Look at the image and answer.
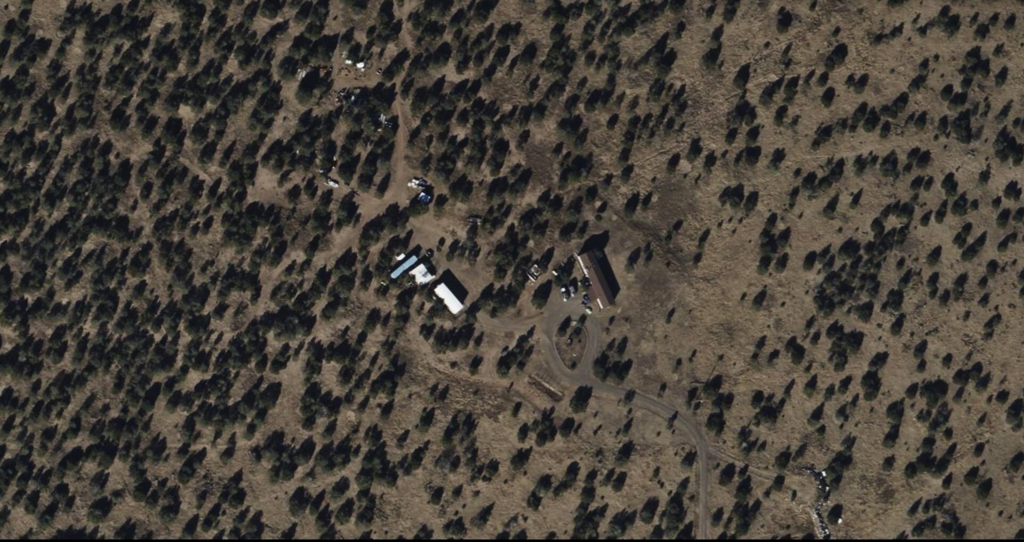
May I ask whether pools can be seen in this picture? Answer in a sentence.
No, there is no pool in the image.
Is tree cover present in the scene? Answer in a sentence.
Yes, some tree cover is visible.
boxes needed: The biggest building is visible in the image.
[575,249,617,310]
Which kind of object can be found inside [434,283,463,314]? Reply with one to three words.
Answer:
shed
